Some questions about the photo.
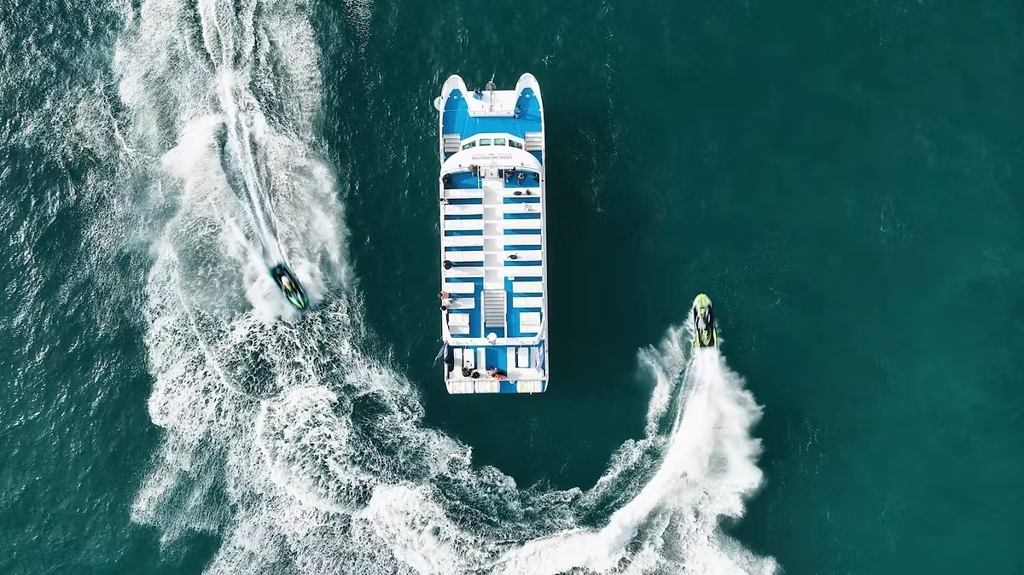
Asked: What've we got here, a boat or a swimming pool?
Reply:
boat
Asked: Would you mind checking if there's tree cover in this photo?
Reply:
No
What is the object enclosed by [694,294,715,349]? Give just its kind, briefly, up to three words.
boat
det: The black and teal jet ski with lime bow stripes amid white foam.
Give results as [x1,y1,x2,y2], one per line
[270,262,307,311]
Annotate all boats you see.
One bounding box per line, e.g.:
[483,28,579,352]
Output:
[270,262,307,311]
[434,69,550,395]
[694,294,715,349]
